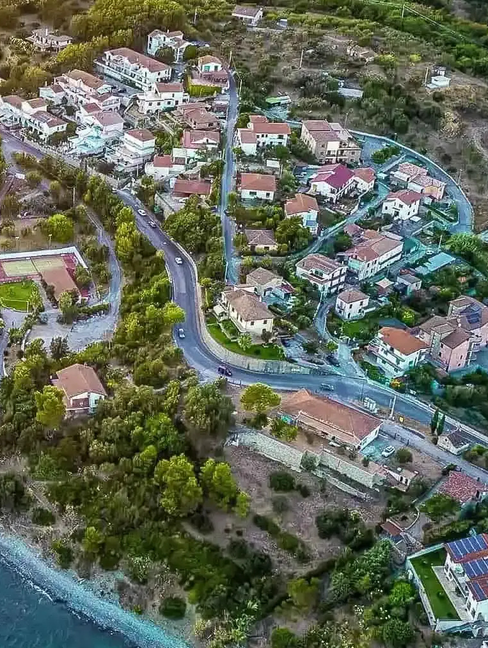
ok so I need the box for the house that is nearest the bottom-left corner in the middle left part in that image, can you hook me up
[48,362,104,414]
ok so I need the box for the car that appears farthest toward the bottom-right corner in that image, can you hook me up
[382,443,396,456]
